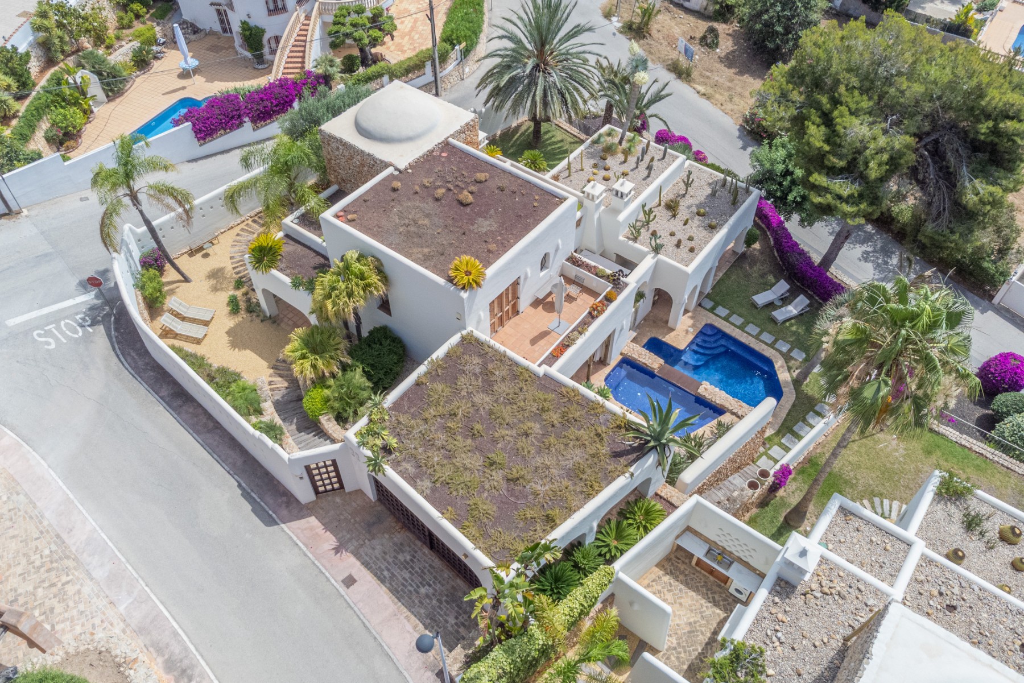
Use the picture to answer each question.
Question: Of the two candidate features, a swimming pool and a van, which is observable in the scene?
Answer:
swimming pool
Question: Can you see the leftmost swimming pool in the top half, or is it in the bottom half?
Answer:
top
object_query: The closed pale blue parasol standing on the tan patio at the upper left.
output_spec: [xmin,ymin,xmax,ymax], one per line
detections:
[174,23,195,83]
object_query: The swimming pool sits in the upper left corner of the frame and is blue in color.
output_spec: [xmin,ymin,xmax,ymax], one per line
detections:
[127,96,233,140]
